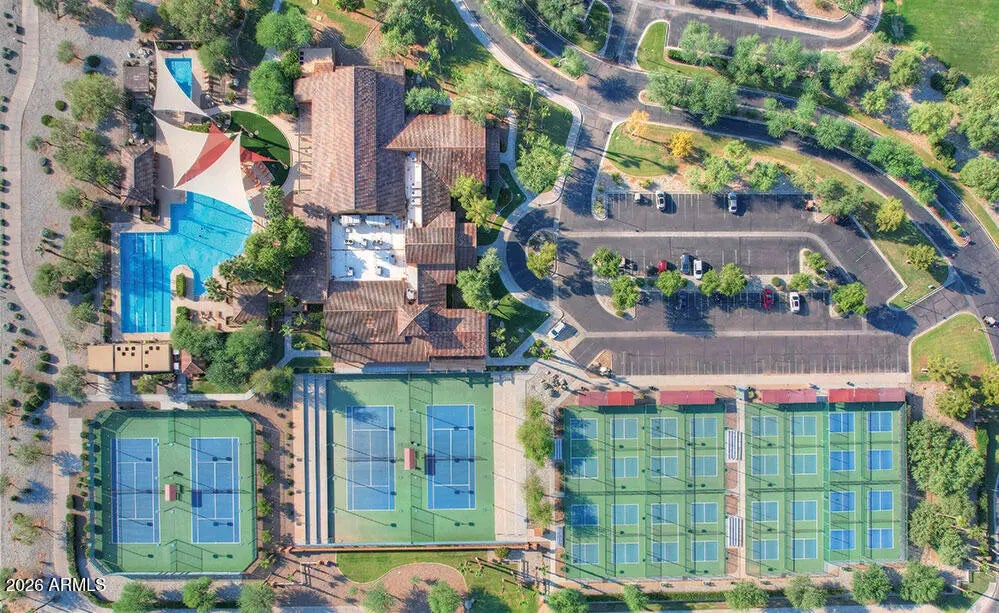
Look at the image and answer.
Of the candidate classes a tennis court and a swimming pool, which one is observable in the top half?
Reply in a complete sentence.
You can see a swimming pool in the top half.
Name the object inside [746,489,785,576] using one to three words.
sports court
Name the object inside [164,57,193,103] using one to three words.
swimming pool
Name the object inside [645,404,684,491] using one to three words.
sports court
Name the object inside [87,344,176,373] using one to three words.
building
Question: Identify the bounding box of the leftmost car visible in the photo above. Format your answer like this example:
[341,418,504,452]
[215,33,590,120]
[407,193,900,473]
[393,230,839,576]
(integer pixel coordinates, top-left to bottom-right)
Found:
[546,318,567,338]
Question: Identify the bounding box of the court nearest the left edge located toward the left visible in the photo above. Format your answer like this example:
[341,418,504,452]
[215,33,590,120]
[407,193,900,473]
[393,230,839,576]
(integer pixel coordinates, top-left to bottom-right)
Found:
[96,412,175,573]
